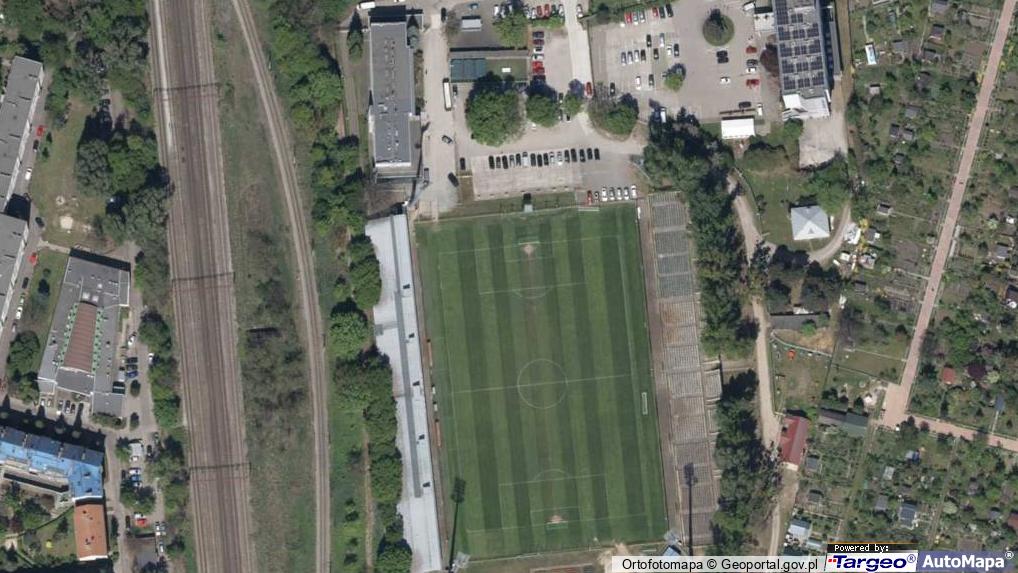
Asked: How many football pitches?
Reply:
one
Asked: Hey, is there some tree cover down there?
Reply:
Yes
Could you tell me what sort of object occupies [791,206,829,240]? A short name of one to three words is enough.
building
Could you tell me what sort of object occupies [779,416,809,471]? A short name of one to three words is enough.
house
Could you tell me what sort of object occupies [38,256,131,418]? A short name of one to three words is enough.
building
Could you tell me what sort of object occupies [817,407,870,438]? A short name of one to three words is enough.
house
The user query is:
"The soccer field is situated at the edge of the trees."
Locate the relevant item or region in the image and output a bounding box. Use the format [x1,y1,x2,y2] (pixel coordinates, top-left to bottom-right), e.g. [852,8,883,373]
[419,203,667,562]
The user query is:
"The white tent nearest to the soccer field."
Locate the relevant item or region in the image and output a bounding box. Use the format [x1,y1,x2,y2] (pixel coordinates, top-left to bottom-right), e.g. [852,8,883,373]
[721,119,755,138]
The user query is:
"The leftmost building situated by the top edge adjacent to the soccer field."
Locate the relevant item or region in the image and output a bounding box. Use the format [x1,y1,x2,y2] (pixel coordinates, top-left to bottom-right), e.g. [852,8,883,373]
[368,14,423,183]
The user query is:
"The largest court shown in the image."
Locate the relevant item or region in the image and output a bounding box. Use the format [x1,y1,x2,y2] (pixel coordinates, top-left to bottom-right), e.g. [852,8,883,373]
[486,59,526,83]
